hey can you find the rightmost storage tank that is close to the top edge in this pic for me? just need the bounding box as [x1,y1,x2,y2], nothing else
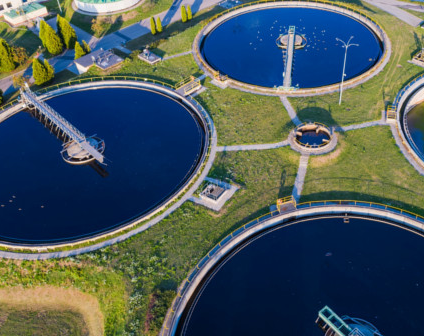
[196,0,386,94]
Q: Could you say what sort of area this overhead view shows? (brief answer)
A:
industrial area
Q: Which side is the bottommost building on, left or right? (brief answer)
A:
left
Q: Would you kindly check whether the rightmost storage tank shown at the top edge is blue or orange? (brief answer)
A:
blue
